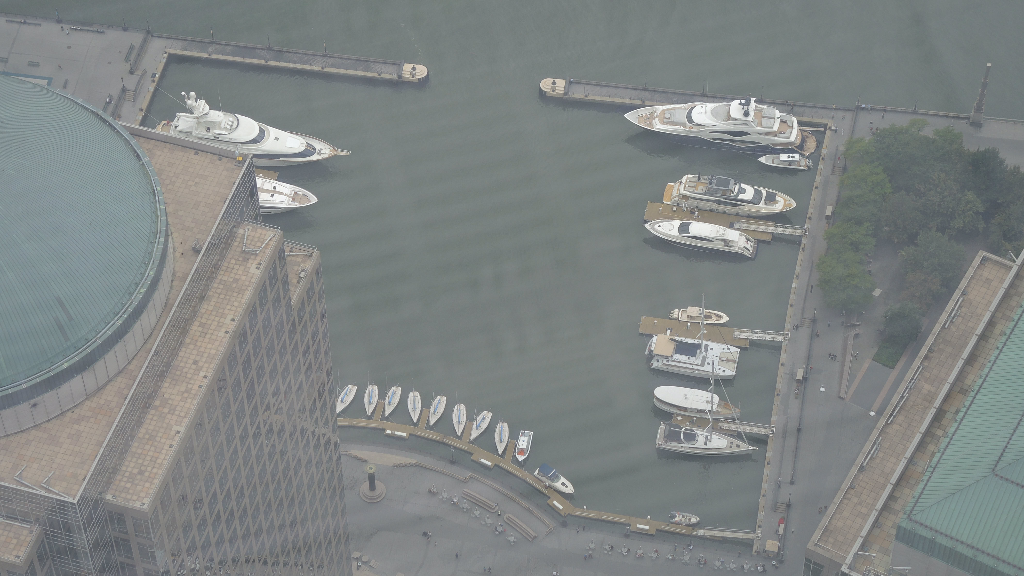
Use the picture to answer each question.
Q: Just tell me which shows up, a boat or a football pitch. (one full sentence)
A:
Looking from above, you can make out a boat.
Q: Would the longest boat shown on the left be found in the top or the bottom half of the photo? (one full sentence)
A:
The longest boat shown on the left sits in the top half of the picture.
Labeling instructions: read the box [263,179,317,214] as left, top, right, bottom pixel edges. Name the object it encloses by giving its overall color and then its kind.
white boat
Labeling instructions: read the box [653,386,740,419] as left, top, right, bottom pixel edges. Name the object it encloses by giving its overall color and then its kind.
white boat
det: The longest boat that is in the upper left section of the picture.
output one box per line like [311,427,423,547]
[158,88,350,168]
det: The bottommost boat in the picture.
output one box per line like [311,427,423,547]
[668,511,701,524]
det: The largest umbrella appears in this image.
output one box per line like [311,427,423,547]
[764,539,781,554]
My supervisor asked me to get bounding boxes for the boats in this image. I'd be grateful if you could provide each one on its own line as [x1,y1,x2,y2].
[668,511,701,524]
[532,466,573,495]
[263,179,317,214]
[495,415,510,455]
[408,384,422,423]
[364,377,379,416]
[453,399,467,436]
[430,391,447,426]
[645,221,757,258]
[624,92,834,158]
[158,88,350,168]
[644,293,740,380]
[653,386,740,419]
[663,170,796,222]
[657,360,758,455]
[472,406,493,440]
[758,153,811,172]
[514,431,532,463]
[337,376,356,414]
[385,379,402,416]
